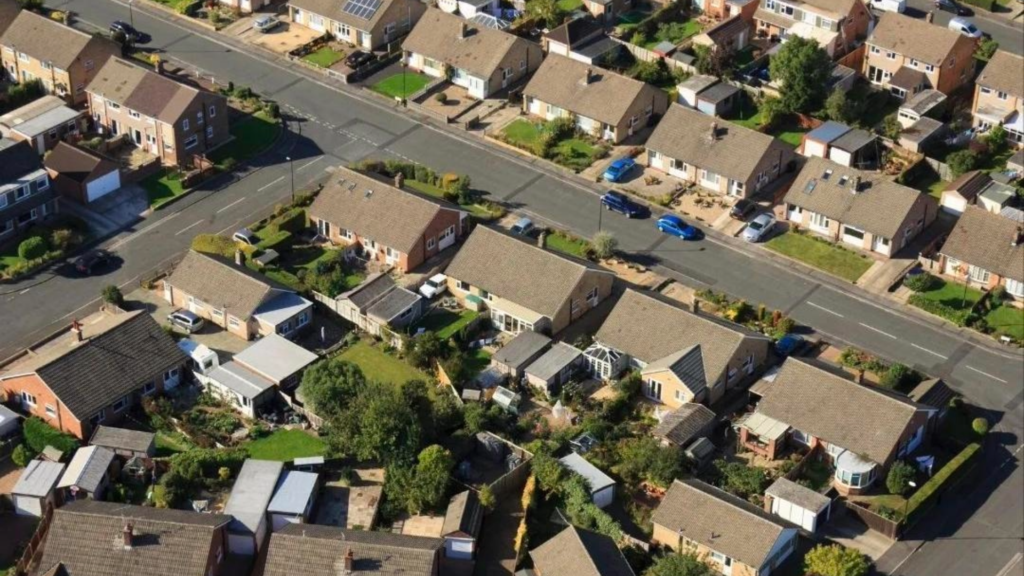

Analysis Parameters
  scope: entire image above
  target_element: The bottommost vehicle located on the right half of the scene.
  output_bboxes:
[772,328,810,357]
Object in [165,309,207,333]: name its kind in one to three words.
car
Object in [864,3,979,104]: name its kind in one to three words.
house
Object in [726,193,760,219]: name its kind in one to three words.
car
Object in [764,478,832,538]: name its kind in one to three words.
building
